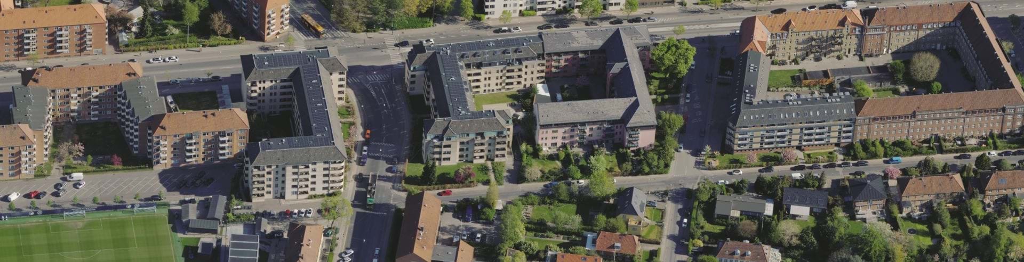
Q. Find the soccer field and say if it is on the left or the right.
left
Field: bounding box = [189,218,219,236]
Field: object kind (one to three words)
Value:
shed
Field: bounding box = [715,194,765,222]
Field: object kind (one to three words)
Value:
house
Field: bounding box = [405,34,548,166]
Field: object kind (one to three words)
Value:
building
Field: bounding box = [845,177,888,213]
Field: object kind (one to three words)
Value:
house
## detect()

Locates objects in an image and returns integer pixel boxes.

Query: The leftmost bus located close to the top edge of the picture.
[301,13,325,38]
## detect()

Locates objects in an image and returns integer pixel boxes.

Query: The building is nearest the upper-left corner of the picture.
[0,0,106,61]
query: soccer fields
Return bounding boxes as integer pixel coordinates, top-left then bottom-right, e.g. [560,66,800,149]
[0,201,191,262]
